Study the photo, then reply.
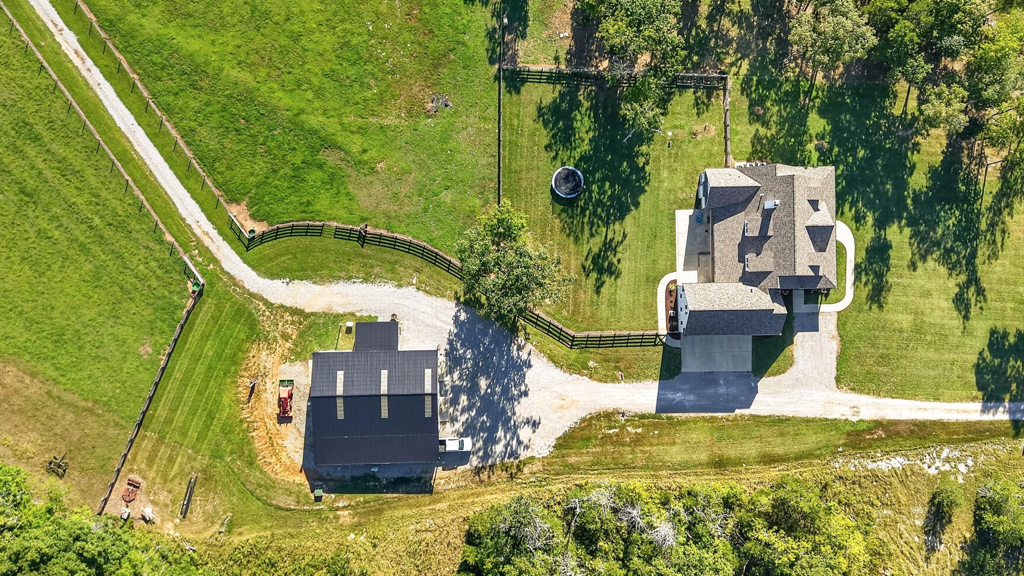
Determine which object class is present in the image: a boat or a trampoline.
trampoline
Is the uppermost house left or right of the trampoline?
right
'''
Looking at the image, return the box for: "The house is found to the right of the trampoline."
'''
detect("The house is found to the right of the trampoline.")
[677,164,836,335]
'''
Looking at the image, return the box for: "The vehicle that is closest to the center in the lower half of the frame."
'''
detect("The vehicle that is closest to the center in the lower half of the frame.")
[439,437,472,454]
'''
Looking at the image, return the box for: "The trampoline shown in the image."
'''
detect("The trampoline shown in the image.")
[551,166,584,199]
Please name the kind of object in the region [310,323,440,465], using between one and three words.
barn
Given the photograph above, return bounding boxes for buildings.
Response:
[677,164,836,335]
[310,323,440,465]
